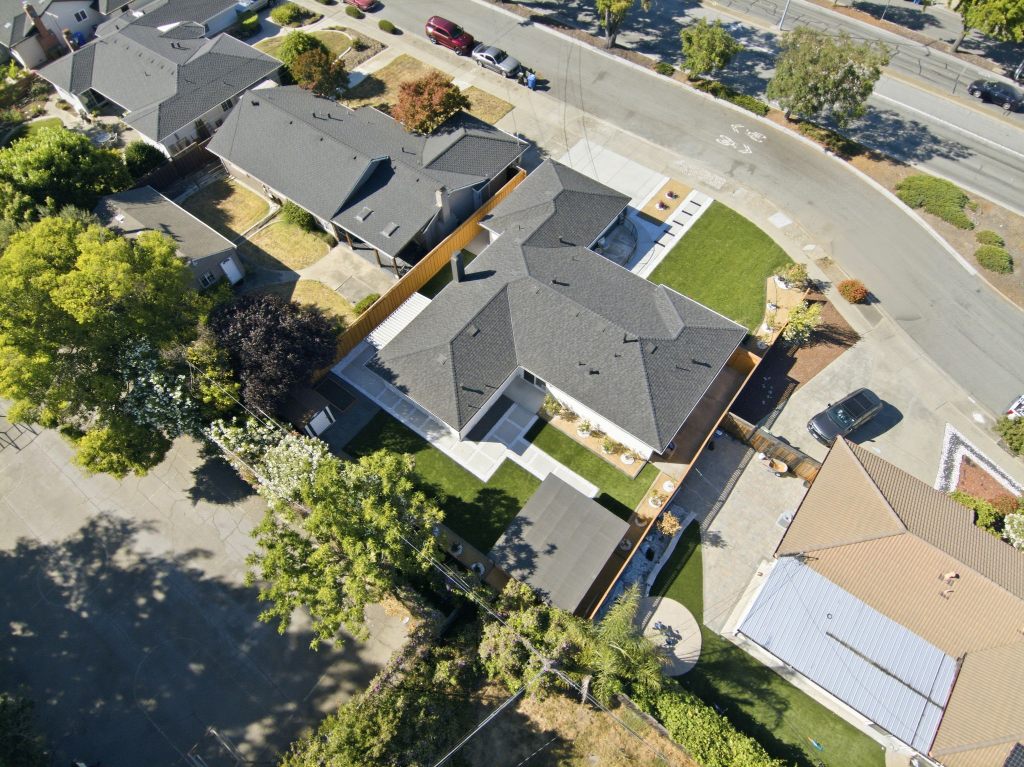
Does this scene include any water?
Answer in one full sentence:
No, there's no water in this view.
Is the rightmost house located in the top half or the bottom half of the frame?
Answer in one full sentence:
It is in the bottom half that the rightmost house appears.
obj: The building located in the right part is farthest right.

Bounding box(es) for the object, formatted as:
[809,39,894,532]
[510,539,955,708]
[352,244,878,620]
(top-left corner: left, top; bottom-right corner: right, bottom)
[770,435,1024,767]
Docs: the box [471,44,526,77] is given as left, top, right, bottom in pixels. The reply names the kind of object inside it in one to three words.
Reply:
car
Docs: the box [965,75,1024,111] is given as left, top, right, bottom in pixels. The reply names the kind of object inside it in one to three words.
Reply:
car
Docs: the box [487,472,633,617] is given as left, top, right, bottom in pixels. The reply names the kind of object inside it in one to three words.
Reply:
building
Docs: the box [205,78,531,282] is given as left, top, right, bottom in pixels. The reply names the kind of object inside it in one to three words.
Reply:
house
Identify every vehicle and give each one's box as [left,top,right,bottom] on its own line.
[337,0,379,13]
[965,75,1024,111]
[471,44,526,77]
[426,14,480,57]
[801,388,889,443]
[234,0,280,15]
[1001,400,1024,421]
